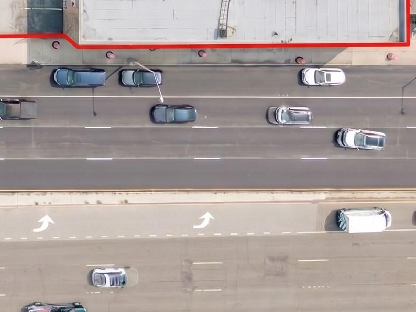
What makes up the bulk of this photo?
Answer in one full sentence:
What you mostly see from above here is paved ground.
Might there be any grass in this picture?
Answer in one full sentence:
No, there's no grass in this view.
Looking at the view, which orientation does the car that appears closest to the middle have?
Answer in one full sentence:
Seen from above, the car that appears closest to the middle lies from left to right.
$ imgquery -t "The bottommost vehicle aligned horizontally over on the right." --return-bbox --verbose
[335,208,392,237]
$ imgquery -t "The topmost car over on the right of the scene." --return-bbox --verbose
[300,66,347,88]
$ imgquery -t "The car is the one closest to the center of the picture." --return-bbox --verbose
[151,104,198,126]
